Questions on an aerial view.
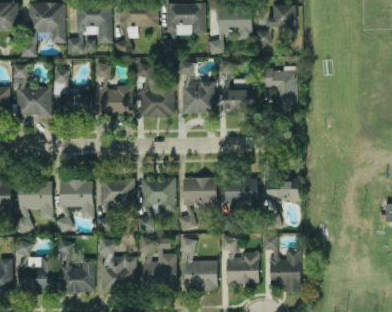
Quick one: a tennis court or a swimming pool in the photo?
swimming pool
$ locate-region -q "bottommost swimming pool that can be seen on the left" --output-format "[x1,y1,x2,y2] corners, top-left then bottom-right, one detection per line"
[34,239,54,257]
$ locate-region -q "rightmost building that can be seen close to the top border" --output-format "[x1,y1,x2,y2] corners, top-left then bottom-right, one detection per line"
[258,4,298,47]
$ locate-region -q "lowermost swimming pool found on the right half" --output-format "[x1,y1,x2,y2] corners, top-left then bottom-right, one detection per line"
[279,234,298,256]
